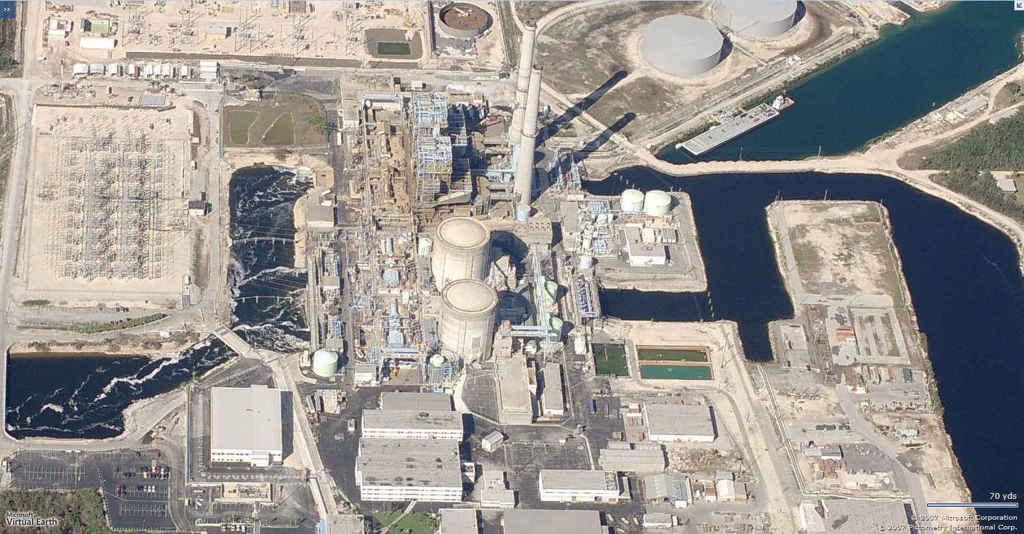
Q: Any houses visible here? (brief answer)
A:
Yes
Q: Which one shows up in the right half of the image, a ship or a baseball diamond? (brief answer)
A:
ship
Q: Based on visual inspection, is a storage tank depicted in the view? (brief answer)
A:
Yes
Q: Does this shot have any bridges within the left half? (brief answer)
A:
Yes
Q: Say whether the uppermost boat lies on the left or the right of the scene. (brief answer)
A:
right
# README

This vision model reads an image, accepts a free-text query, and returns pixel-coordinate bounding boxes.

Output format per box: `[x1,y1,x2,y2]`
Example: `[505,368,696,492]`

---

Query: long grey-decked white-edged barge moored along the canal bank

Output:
[682,102,779,156]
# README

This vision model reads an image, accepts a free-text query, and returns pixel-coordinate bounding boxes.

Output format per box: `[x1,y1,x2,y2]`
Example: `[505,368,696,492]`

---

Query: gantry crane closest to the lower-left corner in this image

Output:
[381,346,426,384]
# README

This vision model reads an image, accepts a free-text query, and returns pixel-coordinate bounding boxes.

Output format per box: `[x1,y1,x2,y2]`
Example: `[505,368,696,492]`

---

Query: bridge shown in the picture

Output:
[214,323,262,358]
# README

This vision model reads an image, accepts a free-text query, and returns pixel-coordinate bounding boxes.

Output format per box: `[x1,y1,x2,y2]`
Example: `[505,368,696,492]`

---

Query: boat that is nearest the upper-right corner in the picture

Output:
[774,90,796,110]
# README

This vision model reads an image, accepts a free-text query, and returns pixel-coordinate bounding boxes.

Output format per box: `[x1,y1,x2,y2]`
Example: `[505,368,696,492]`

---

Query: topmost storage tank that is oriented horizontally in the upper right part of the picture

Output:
[715,0,796,37]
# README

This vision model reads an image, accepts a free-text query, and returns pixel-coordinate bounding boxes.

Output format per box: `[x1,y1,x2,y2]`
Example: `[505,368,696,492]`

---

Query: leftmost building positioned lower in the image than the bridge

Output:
[210,388,283,467]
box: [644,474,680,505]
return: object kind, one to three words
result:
barn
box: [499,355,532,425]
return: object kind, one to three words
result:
building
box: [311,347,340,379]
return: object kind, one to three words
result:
water tank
